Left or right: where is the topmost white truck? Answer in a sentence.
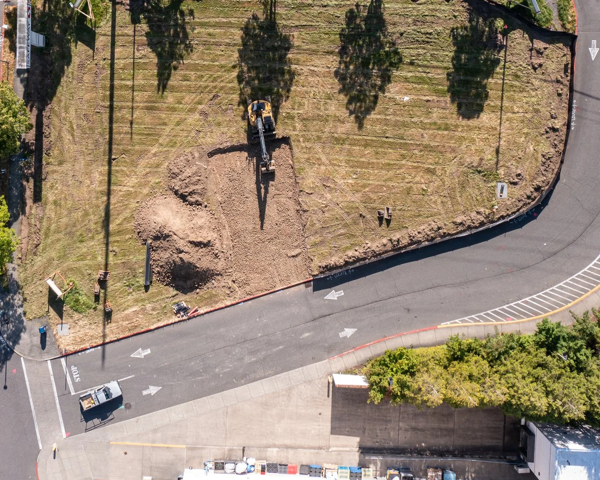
The topmost white truck appears in the left half of the scene.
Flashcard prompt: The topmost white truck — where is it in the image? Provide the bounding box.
[75,380,126,419]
